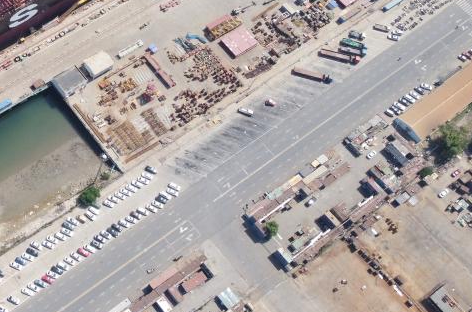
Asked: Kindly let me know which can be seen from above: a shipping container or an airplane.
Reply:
shipping container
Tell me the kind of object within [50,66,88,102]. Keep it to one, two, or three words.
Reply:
building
